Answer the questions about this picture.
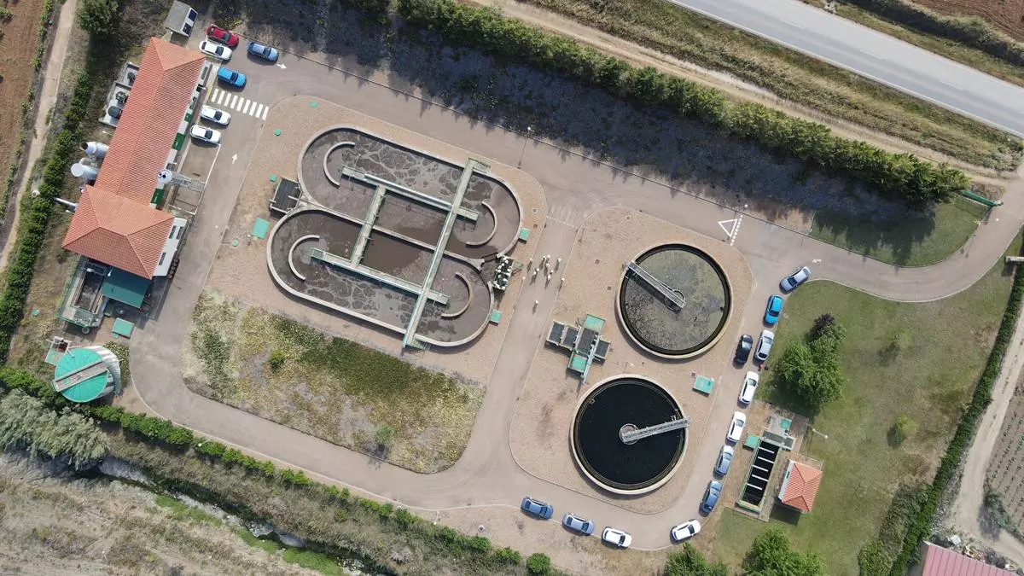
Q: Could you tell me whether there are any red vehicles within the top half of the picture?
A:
Yes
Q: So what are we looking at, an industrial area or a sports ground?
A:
industrial area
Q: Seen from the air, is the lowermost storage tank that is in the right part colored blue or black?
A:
black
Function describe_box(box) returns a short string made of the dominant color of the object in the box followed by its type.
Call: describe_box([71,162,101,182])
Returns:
white silo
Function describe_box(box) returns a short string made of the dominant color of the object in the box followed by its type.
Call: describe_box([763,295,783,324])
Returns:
blue car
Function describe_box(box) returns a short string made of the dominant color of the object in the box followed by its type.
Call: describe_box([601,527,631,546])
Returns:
white car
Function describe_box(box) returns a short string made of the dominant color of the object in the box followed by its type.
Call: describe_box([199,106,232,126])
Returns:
white car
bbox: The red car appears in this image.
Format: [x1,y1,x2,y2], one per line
[206,26,239,48]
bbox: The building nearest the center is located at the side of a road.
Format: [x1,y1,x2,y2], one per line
[546,315,610,382]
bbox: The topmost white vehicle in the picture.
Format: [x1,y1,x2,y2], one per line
[199,40,233,61]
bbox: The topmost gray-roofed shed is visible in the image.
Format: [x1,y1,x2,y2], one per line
[160,0,196,41]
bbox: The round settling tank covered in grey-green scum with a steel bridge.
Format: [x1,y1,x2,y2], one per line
[616,243,732,357]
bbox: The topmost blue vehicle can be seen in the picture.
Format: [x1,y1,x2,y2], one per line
[246,43,279,63]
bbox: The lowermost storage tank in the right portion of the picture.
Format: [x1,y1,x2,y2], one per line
[569,374,692,492]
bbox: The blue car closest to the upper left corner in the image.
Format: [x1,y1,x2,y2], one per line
[215,67,247,88]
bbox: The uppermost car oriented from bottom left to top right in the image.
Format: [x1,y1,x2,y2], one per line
[779,266,812,291]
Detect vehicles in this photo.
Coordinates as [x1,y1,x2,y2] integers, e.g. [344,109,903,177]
[215,67,247,88]
[246,43,279,63]
[199,40,233,61]
[206,26,239,48]
[713,445,733,477]
[763,295,783,324]
[779,266,812,291]
[738,371,758,404]
[601,527,631,546]
[734,333,753,364]
[521,497,553,517]
[562,512,593,533]
[754,330,774,361]
[700,480,720,513]
[670,519,700,540]
[725,410,745,443]
[189,125,223,145]
[199,106,232,126]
